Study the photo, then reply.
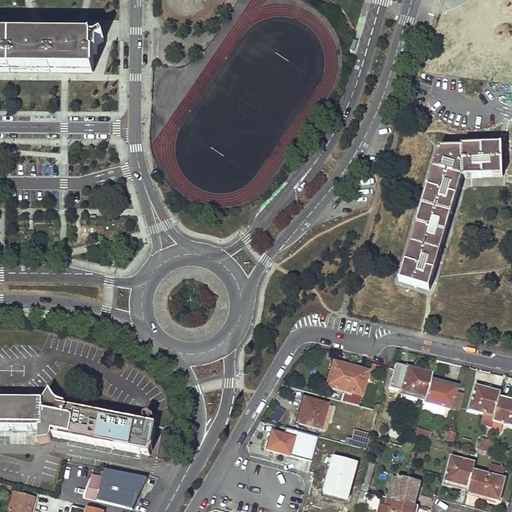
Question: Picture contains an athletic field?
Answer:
Yes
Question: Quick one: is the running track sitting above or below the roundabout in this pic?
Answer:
above it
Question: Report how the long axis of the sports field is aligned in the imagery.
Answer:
at an angle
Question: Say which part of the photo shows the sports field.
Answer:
top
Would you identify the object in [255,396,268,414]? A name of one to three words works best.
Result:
vehicle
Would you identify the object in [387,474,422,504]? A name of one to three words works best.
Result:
house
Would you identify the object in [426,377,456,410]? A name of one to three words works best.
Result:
house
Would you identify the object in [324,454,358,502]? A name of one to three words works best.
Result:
building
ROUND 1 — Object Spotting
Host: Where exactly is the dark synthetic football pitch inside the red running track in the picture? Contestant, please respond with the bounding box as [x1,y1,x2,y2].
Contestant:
[174,16,324,193]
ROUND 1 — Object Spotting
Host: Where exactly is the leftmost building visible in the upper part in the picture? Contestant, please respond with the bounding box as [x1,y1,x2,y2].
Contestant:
[0,22,92,72]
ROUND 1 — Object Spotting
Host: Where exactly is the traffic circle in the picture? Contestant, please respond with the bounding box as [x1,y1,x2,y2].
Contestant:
[114,228,268,370]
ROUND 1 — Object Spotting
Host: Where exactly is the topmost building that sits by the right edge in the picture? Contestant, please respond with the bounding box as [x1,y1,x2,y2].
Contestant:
[399,138,502,289]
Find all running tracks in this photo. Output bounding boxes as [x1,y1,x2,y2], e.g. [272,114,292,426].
[153,0,336,204]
